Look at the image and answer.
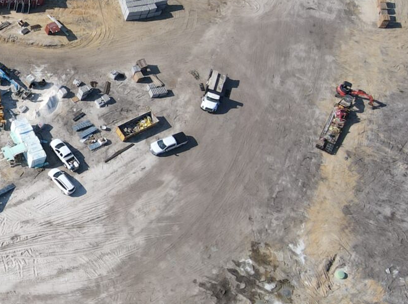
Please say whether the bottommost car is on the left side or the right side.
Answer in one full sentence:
It is on the left.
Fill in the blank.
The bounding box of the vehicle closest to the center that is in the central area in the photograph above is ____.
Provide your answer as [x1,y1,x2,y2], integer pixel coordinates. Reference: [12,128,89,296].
[148,133,189,157]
